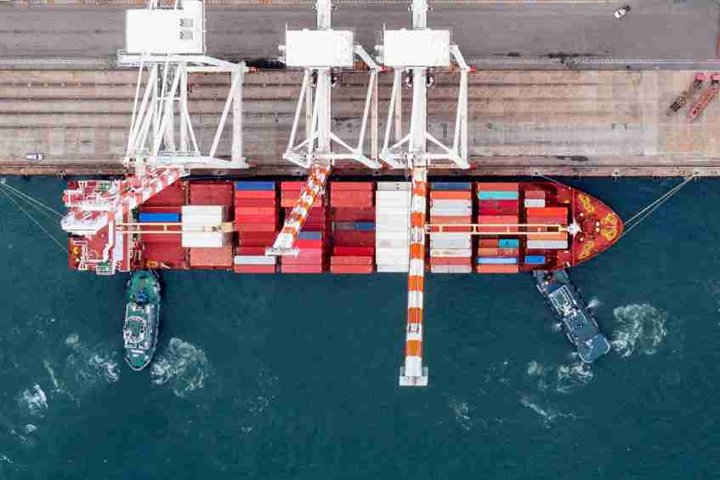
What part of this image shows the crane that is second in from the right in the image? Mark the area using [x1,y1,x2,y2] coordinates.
[261,0,396,259]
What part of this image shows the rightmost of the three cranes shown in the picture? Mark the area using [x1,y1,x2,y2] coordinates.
[378,0,484,384]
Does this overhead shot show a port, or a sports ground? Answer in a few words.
port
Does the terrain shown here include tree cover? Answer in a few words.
No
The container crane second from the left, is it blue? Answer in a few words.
No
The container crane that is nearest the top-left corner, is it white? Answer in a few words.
Yes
